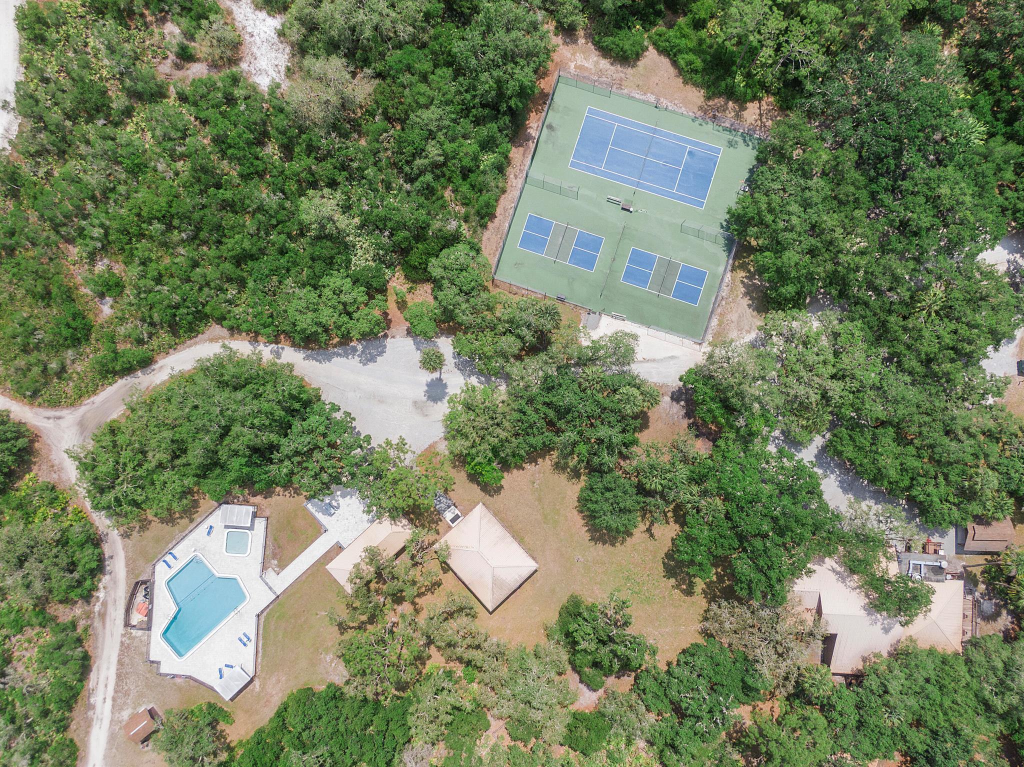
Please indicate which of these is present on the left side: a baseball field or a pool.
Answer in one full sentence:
Visible on the left side is a pool.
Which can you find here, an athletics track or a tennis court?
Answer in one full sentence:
The one in the frame is a tennis court.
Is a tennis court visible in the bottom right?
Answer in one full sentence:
No, I see no tennis court in the bottom right.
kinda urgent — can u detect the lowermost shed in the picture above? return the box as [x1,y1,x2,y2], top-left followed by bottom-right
[124,703,166,743]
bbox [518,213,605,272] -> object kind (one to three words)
sports court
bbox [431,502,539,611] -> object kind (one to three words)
building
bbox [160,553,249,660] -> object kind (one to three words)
swimming pool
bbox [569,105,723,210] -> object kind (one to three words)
tennis court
